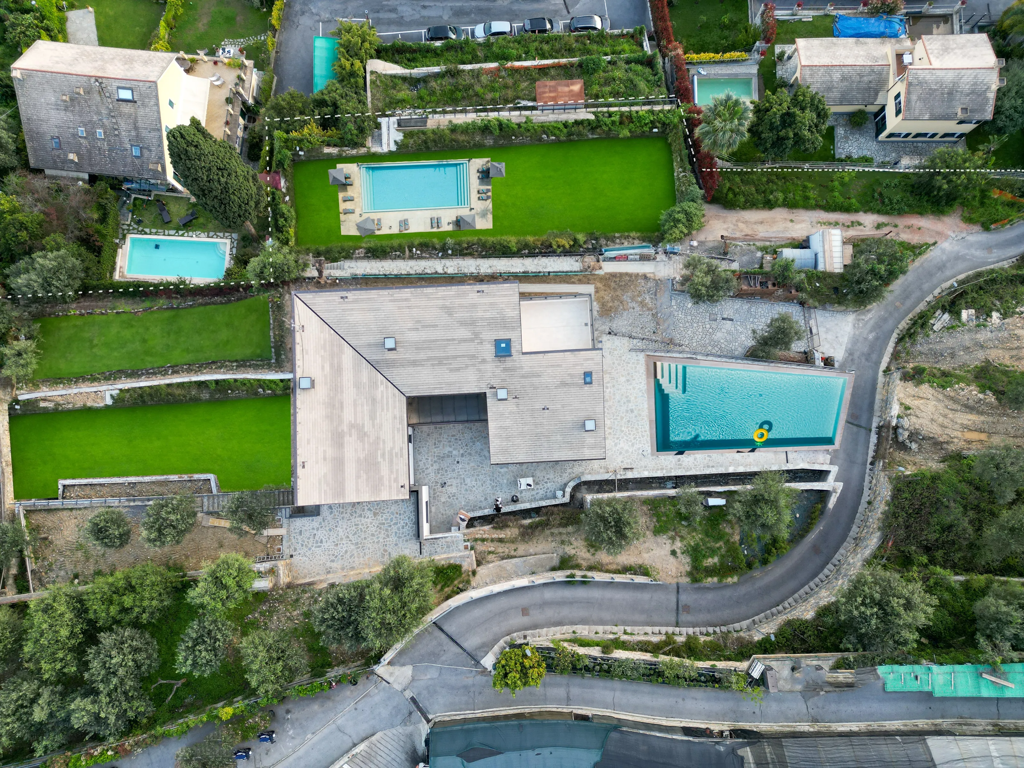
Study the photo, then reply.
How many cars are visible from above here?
four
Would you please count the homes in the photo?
3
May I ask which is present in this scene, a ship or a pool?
pool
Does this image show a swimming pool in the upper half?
Yes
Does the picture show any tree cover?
Yes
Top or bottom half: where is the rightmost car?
top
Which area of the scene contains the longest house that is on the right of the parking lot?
top right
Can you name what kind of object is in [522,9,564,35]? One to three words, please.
car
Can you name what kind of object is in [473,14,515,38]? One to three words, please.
car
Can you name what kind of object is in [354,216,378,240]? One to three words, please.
umbrella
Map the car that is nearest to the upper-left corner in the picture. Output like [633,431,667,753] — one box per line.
[424,17,465,41]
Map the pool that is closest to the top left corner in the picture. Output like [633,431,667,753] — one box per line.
[122,234,231,282]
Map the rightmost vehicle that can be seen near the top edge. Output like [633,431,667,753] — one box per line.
[568,7,612,32]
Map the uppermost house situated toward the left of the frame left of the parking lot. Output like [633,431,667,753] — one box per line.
[5,39,255,196]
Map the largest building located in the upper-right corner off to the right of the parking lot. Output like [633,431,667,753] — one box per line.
[786,32,1012,141]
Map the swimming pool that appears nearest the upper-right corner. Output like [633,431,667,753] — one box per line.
[690,72,757,113]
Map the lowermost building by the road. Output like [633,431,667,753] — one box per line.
[281,281,605,539]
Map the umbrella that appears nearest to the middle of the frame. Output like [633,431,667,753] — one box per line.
[459,214,477,232]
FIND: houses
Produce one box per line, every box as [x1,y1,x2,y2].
[786,32,1012,141]
[5,39,255,196]
[281,281,605,539]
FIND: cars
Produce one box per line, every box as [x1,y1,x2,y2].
[568,7,612,32]
[522,9,564,35]
[473,14,515,38]
[424,17,465,41]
